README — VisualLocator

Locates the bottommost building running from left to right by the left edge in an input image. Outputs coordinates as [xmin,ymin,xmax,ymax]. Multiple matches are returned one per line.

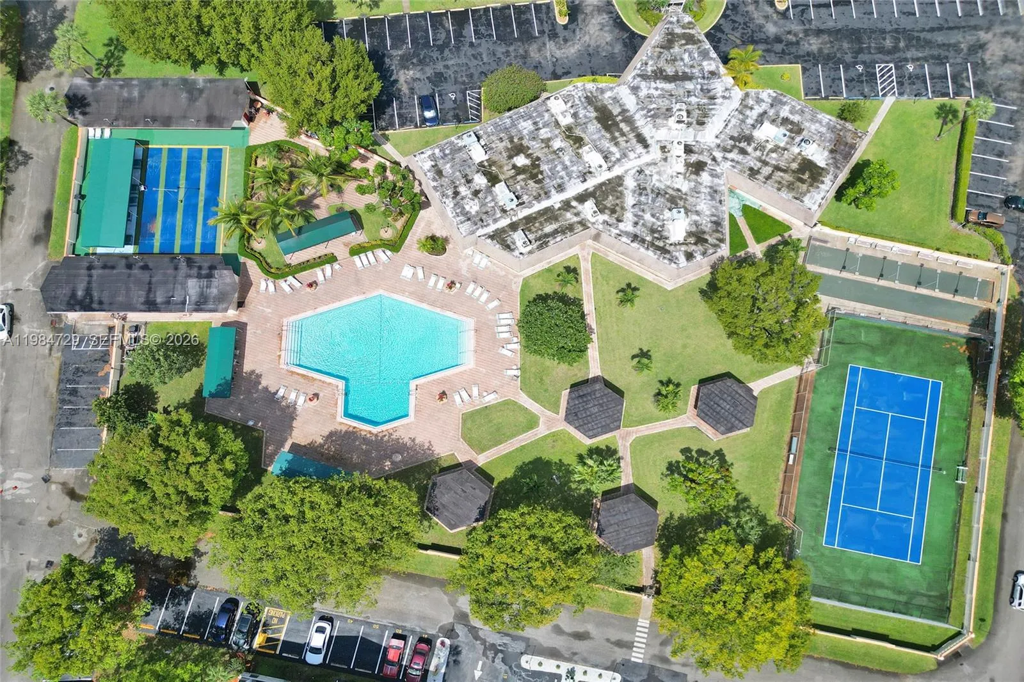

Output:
[40,257,240,314]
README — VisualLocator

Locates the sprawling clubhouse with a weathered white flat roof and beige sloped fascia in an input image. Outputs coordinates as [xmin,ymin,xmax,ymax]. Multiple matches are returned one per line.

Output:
[404,11,871,280]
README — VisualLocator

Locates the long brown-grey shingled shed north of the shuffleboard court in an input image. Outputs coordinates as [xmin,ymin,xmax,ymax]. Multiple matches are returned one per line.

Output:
[64,78,251,132]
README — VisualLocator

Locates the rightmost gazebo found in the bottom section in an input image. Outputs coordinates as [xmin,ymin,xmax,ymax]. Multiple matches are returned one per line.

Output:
[687,378,757,441]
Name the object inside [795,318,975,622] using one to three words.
tennis court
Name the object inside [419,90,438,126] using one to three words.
car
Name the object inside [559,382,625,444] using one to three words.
gazebo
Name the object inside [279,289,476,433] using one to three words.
swimming pool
